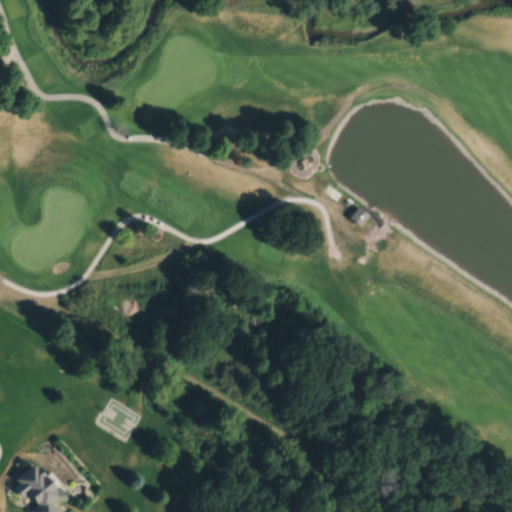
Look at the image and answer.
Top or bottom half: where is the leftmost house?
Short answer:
bottom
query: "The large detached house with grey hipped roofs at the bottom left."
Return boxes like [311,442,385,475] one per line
[20,466,70,512]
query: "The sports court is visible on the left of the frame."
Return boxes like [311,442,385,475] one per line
[96,400,140,440]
